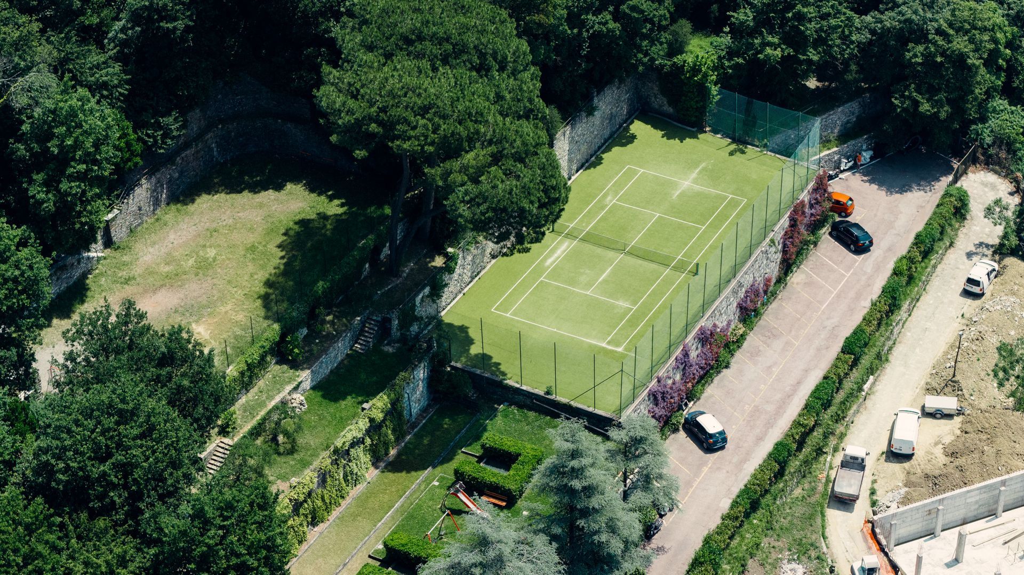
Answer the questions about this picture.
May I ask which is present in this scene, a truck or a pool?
truck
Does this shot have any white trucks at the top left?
No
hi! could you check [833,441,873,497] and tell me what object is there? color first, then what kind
white truck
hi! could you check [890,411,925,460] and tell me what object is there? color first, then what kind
white van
